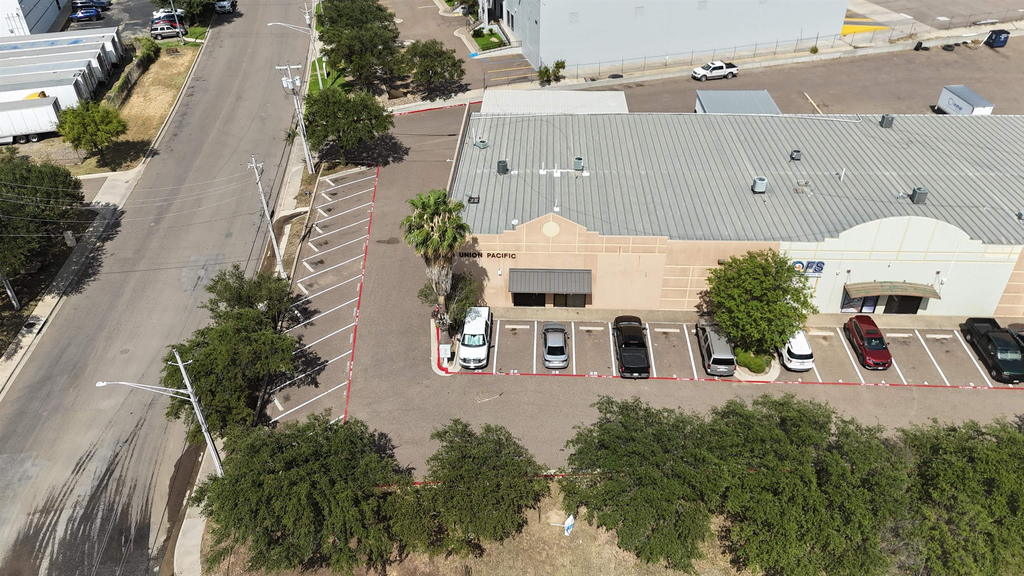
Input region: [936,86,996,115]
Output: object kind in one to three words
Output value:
trailer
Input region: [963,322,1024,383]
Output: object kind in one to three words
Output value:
truck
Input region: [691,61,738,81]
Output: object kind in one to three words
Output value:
vehicle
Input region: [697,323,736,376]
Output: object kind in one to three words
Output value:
car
